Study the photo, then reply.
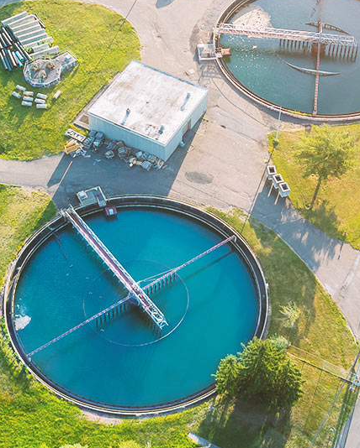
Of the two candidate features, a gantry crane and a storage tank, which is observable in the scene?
storage tank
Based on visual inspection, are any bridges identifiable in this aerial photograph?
Yes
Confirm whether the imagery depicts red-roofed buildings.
No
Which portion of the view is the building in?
top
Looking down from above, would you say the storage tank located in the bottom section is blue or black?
blue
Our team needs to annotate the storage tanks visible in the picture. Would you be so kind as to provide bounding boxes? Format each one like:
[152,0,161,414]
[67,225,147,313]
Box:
[197,0,360,122]
[5,181,266,416]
